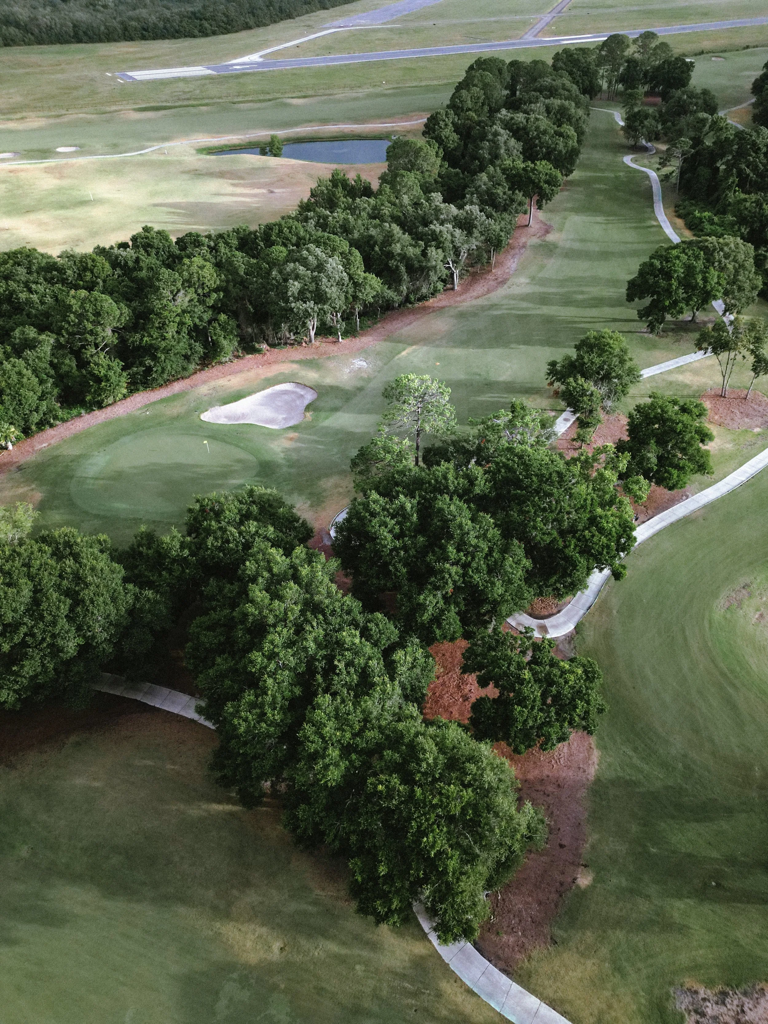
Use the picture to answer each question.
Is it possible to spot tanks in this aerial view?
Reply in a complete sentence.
No, there's no tank here.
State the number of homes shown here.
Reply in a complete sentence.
The count of homes is 0.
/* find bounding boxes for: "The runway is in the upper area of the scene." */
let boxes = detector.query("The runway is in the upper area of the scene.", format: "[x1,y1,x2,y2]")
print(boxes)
[116,19,768,81]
